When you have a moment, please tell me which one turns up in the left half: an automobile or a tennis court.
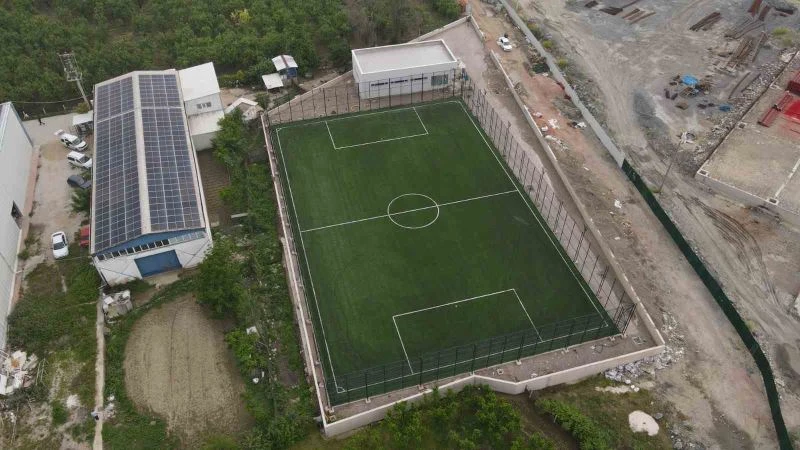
automobile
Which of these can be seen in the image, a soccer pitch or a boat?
soccer pitch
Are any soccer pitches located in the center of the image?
Yes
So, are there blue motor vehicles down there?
No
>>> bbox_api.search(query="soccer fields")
[270,94,626,410]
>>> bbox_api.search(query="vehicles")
[63,173,90,191]
[77,224,89,248]
[48,233,68,259]
[64,152,91,171]
[496,38,512,50]
[52,128,88,149]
